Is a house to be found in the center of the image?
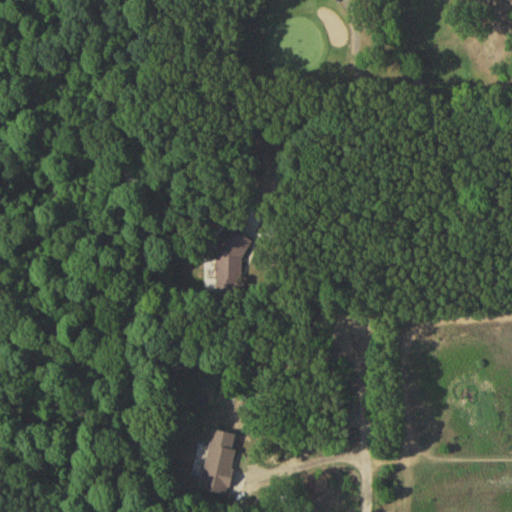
Yes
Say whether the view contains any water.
No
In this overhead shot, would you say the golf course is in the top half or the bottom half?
top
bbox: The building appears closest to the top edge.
[204,232,254,288]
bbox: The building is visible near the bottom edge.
[196,430,235,492]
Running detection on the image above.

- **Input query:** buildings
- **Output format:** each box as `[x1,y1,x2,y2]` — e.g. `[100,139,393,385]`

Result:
[204,232,254,288]
[196,430,235,492]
